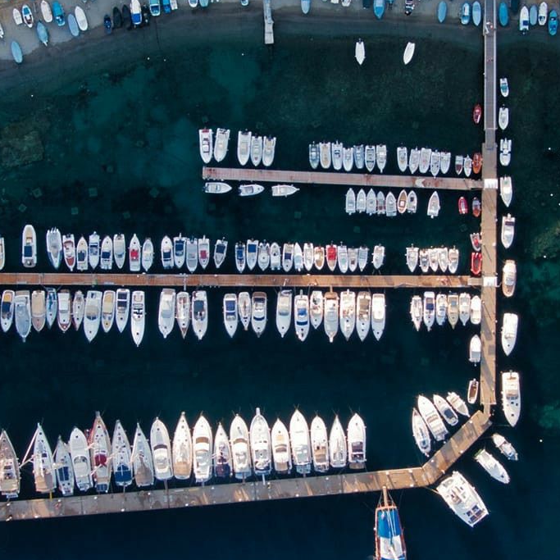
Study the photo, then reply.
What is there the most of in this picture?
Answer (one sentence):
For the most part, this view shows water.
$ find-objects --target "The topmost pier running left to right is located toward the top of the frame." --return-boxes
[203,167,482,189]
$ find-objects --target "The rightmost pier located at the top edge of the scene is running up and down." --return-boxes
[482,0,495,149]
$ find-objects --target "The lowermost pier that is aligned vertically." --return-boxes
[479,146,497,407]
